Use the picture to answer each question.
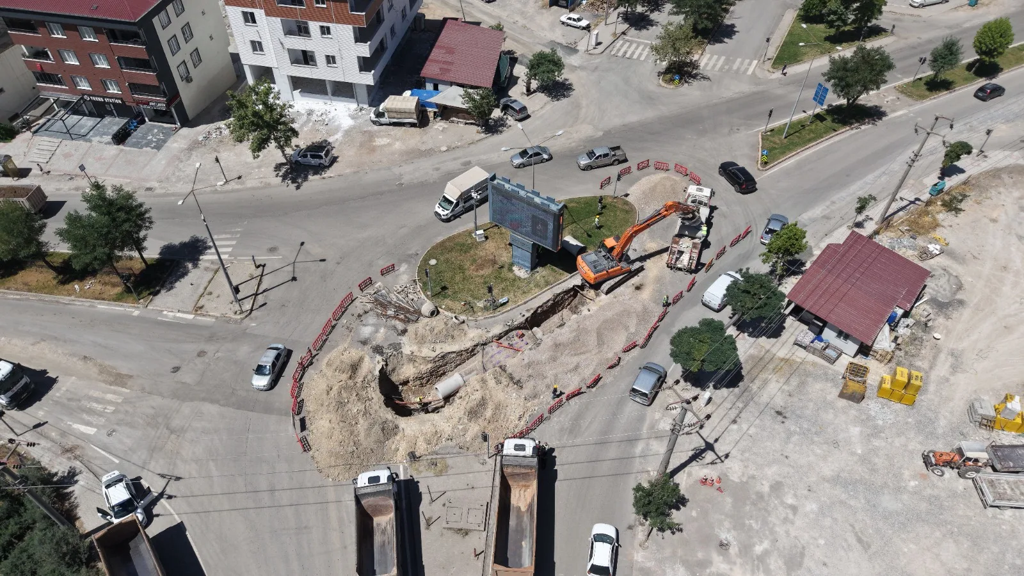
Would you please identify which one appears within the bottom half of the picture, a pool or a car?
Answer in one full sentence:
It is a car that can be seen within the bottom half of the picture.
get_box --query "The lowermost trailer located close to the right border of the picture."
[975,478,1024,513]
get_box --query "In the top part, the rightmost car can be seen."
[975,82,1008,103]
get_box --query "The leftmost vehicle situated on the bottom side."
[0,350,38,408]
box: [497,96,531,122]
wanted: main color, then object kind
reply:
gray car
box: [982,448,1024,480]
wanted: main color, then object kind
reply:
gray trailer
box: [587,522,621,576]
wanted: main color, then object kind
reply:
white car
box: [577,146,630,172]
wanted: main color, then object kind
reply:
gray truck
